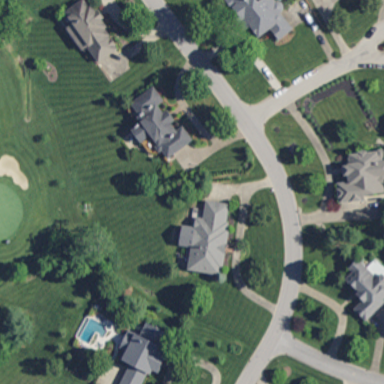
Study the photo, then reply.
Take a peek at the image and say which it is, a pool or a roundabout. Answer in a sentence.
This aerial view contains a pool.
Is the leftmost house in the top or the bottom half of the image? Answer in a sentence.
You can find the leftmost house in the top half.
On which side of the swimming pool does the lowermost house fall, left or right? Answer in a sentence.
The swimming pool has the lowermost house on its right side.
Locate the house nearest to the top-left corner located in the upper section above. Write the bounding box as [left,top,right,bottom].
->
[63,0,114,64]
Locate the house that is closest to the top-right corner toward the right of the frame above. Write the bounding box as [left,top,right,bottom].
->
[222,0,296,42]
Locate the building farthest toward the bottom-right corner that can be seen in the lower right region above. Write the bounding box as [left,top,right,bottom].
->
[345,258,384,325]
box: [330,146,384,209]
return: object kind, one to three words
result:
house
